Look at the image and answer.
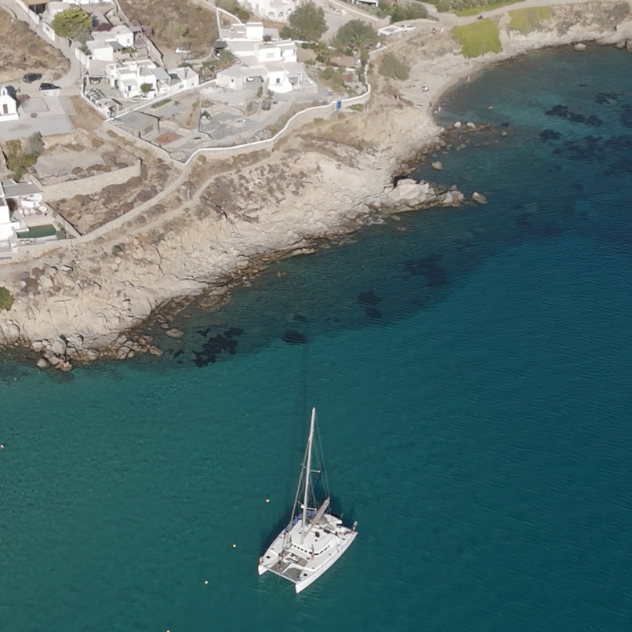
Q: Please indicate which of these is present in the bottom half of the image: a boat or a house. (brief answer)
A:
boat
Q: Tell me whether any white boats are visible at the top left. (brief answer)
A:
No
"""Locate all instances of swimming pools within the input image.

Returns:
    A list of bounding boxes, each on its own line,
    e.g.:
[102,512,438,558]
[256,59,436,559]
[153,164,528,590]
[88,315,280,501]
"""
[15,226,57,239]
